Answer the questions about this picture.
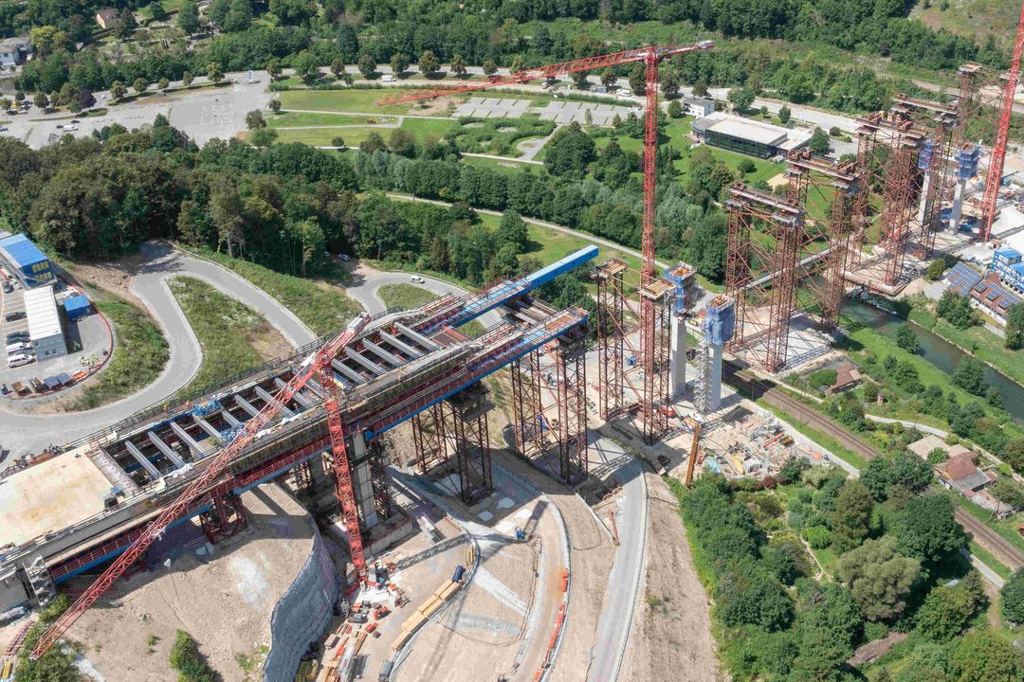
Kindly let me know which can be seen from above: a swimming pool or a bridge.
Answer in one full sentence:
This aerial view contains a bridge.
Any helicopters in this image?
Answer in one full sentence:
No, no helicopter is visible in the scene.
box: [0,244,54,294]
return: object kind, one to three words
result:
building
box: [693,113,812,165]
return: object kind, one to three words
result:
building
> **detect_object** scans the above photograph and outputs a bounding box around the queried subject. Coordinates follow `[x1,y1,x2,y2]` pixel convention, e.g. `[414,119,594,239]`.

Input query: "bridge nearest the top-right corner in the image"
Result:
[844,256,952,303]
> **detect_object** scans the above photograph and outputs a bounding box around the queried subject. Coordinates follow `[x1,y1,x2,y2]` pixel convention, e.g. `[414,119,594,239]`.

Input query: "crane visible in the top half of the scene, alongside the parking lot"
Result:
[381,40,715,425]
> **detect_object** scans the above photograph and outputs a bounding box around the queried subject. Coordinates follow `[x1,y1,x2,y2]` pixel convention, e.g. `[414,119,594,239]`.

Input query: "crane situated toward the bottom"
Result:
[27,310,375,661]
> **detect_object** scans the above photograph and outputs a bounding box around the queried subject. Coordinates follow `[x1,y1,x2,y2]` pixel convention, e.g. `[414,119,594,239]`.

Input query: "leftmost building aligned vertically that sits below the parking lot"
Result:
[31,281,71,360]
